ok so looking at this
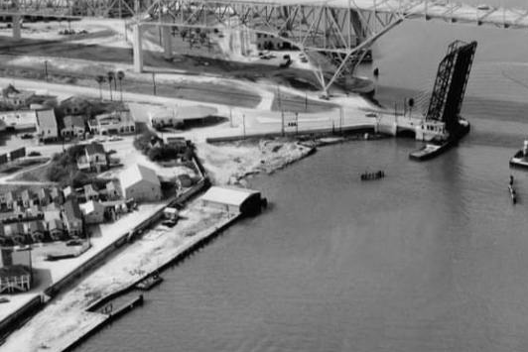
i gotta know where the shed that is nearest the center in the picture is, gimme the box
[200,179,269,220]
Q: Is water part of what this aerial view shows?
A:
Yes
